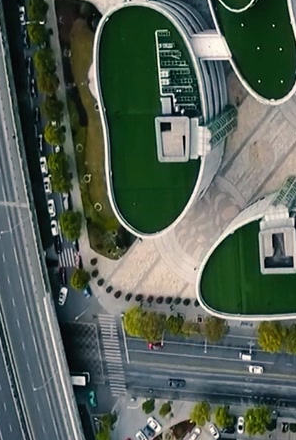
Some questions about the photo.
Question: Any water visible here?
No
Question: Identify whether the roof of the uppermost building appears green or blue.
green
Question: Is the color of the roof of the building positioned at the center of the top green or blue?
green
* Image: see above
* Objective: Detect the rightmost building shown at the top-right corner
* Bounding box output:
[210,0,296,109]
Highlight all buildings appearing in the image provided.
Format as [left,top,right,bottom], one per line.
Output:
[94,1,244,239]
[199,173,296,318]
[210,0,296,109]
